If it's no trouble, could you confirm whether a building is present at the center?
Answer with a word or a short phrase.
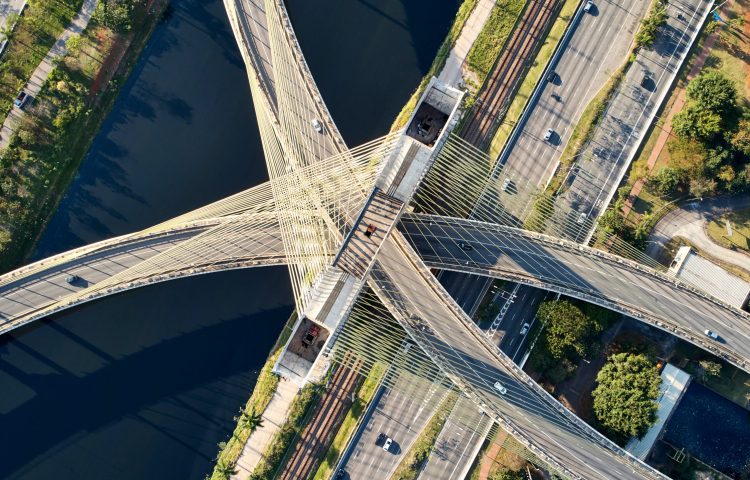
No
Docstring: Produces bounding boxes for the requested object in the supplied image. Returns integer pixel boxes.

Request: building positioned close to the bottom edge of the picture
[620,362,690,459]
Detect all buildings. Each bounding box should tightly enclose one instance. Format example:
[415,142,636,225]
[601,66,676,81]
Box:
[659,243,750,306]
[620,362,690,459]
